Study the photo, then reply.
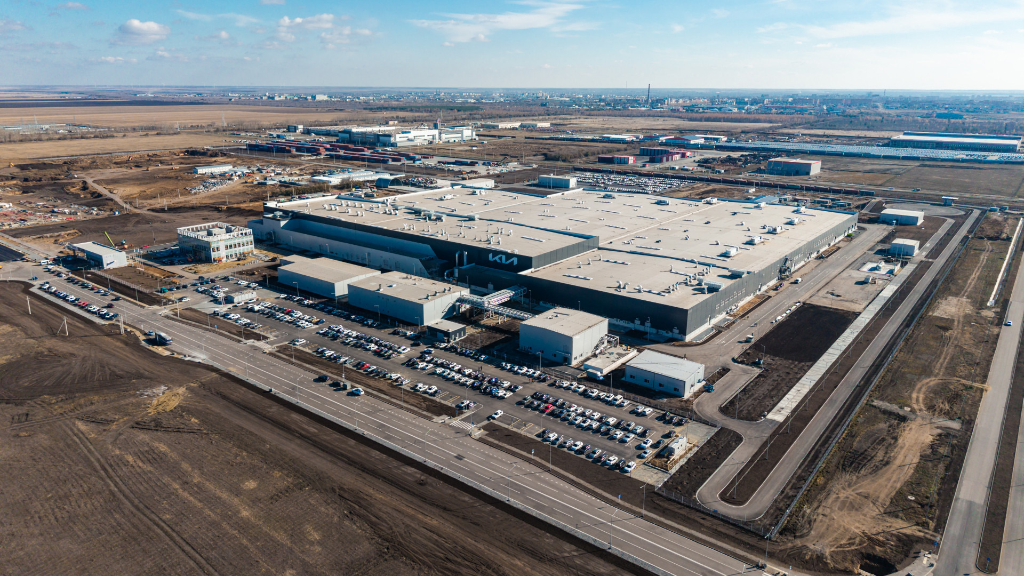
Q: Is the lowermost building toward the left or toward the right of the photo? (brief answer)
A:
right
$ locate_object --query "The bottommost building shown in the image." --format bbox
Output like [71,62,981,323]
[646,432,691,472]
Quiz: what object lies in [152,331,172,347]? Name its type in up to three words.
vehicle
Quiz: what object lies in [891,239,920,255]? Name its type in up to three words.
building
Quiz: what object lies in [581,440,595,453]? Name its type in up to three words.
vehicle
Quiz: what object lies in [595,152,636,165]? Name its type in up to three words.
shed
